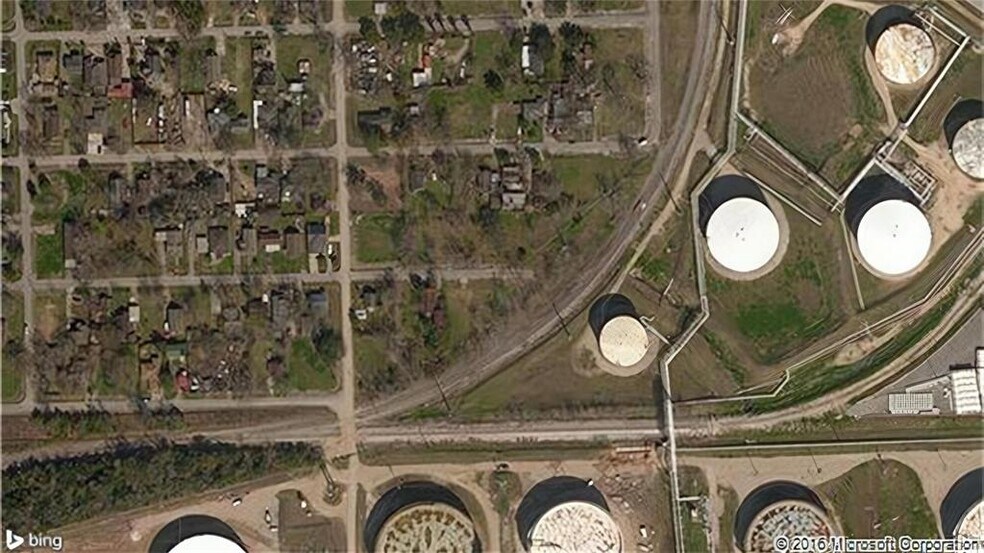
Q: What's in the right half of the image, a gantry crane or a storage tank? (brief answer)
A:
storage tank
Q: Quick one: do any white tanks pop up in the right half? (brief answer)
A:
Yes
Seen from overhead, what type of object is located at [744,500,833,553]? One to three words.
storage tank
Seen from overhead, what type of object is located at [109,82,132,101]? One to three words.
house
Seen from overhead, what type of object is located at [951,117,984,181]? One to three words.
storage tank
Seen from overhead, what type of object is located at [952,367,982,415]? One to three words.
building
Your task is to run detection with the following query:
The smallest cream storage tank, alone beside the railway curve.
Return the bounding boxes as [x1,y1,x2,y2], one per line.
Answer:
[599,314,650,366]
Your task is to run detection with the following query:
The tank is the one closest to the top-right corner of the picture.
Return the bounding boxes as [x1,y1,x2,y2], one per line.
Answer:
[874,22,937,84]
